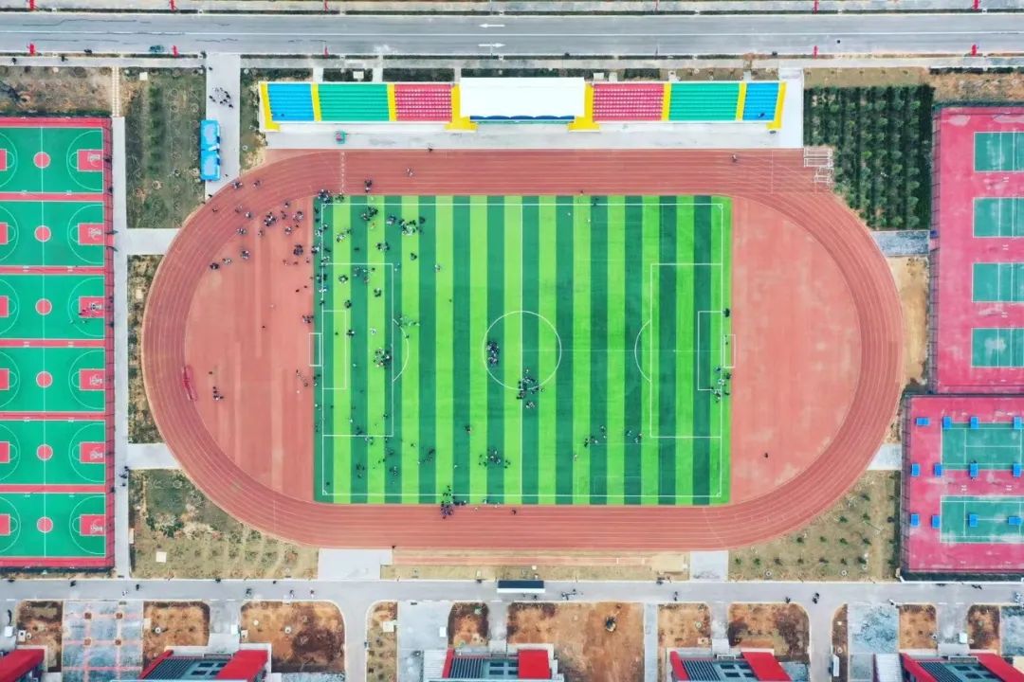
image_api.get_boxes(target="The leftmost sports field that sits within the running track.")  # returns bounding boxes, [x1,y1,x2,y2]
[314,195,732,505]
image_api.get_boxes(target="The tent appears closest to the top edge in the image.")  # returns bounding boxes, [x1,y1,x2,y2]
[201,120,225,151]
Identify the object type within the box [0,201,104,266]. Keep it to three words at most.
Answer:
basketball court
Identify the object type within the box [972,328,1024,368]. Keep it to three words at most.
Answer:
sports court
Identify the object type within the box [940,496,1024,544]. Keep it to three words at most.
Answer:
tennis court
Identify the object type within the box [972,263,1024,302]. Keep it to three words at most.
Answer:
sports court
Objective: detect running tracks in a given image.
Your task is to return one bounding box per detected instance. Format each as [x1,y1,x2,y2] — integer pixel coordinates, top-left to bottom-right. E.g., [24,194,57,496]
[141,147,904,552]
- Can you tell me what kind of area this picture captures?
sports ground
